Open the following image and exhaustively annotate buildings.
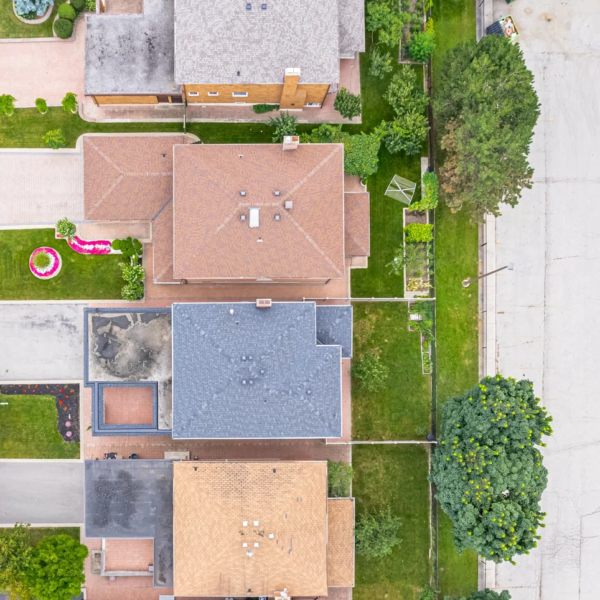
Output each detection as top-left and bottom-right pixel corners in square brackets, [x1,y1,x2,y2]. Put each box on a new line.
[83,130,370,284]
[85,460,355,600]
[84,0,365,111]
[83,294,354,440]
